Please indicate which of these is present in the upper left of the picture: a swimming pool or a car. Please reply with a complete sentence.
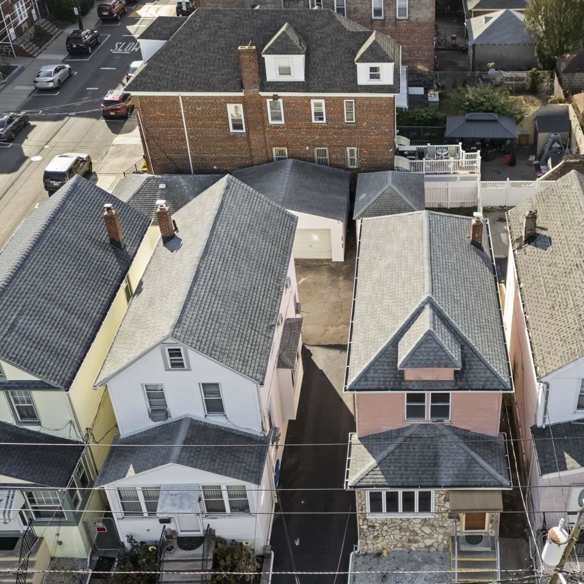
You can see a car in the upper left of the picture.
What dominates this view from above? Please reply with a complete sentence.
The scene is dominated by buildings.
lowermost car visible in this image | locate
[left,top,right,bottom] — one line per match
[41,154,92,194]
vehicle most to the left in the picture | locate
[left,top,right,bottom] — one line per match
[0,110,34,143]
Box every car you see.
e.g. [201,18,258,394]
[67,28,103,55]
[41,154,92,194]
[98,0,129,22]
[36,63,75,90]
[174,0,196,18]
[100,87,138,120]
[127,58,143,85]
[0,110,34,143]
